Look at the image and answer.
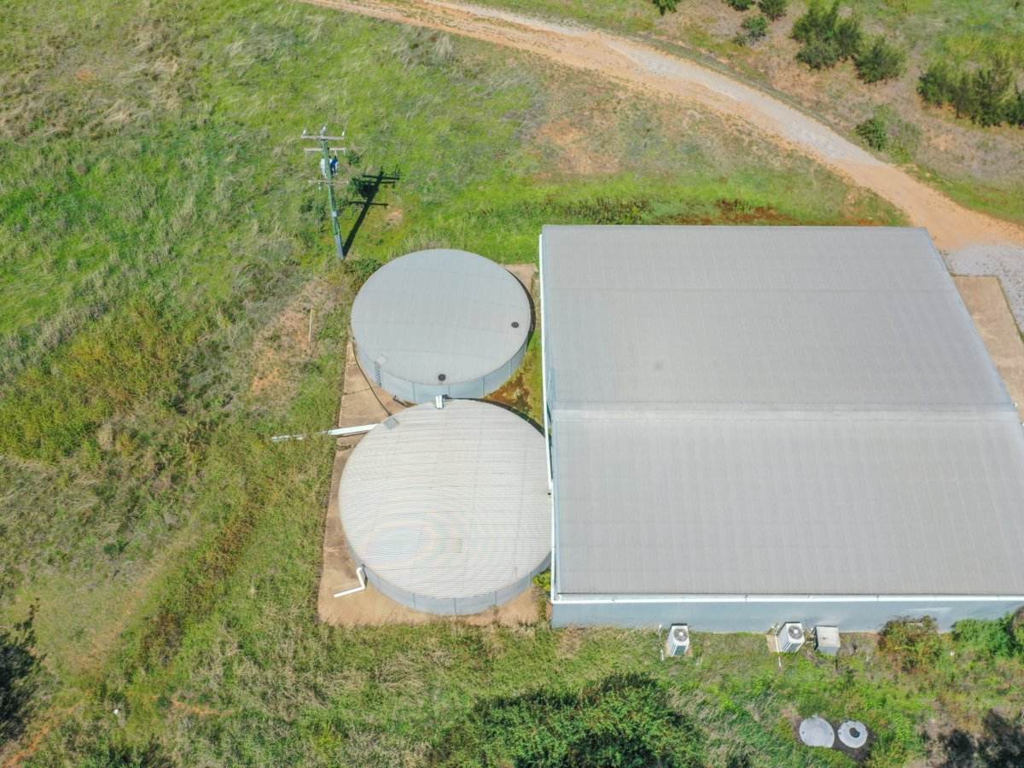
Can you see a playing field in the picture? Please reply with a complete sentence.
No, no playing field is visible in the scene.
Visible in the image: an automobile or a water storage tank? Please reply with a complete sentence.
This aerial view contains a water storage tank.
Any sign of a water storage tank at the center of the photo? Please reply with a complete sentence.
Yes, a water storage tank appears at the center of the photo.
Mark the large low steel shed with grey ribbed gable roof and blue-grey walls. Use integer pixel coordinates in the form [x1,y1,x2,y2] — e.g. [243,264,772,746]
[538,225,1024,631]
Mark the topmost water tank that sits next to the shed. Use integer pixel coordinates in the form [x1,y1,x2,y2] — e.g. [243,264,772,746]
[351,249,531,409]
